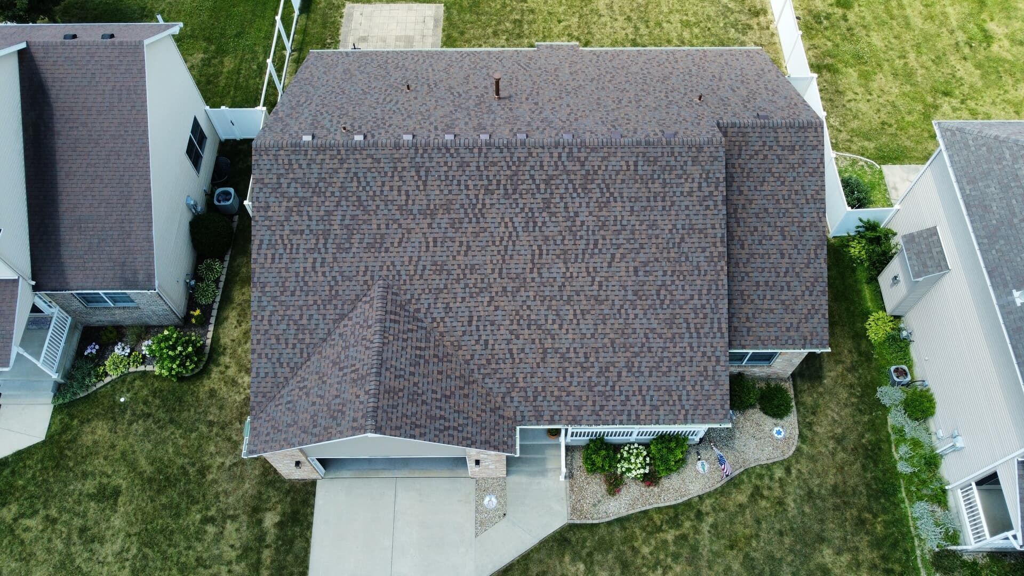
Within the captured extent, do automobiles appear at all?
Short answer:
No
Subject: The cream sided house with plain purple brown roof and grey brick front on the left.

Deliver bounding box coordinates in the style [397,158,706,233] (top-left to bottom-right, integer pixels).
[0,21,223,403]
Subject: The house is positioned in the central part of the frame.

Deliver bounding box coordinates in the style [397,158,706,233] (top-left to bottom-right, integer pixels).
[238,42,831,479]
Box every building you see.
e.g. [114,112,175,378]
[0,21,223,403]
[877,117,1024,551]
[238,42,831,479]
